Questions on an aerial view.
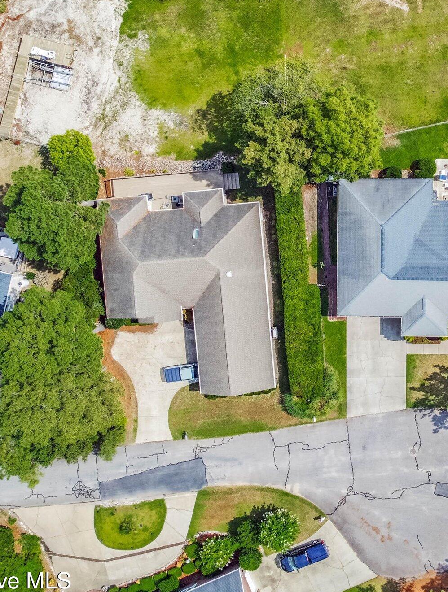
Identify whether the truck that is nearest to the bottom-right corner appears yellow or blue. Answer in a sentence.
From above, the truck that is nearest to the bottom-right corner appears blue.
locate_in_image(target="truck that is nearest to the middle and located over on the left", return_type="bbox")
[158,363,199,388]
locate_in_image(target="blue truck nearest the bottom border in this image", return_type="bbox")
[273,542,331,579]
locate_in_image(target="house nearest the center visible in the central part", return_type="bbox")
[97,188,278,396]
